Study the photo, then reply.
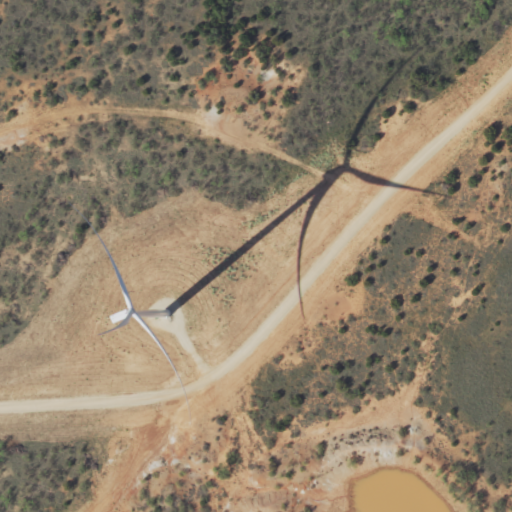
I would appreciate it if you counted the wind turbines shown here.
1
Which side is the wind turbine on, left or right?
left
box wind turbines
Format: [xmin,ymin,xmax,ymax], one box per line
[80,215,186,410]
